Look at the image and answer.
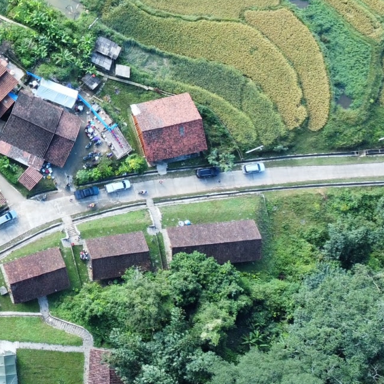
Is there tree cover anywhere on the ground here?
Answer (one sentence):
Yes, the picture does contain tree cover.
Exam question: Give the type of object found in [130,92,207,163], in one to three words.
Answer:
house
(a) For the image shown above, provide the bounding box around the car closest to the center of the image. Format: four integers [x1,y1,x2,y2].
[193,165,220,179]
